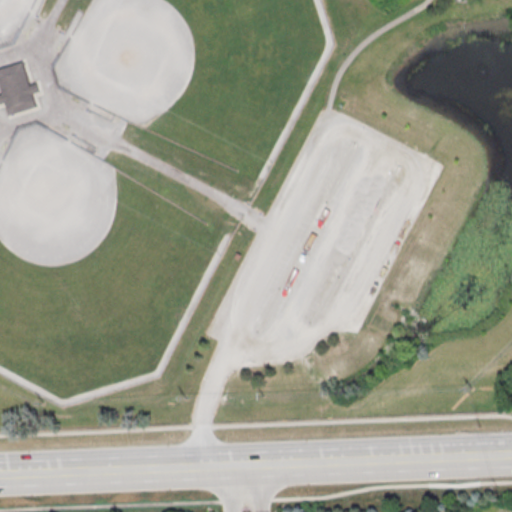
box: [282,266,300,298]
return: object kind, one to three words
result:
vehicle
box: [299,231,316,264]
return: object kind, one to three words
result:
vehicle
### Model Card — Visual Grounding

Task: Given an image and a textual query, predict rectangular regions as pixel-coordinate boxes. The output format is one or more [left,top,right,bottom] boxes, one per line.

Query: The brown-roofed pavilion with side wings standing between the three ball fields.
[0,60,42,118]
